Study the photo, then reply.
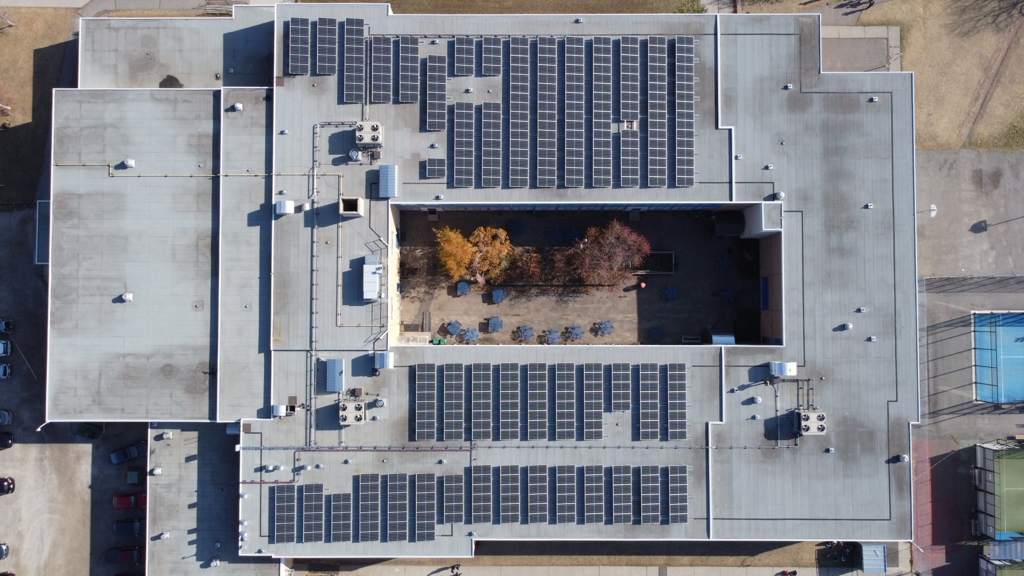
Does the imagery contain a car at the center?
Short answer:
No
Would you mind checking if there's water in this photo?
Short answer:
No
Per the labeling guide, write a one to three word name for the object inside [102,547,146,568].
truck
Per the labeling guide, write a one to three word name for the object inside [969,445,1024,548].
sports court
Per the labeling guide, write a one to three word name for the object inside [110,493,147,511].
car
